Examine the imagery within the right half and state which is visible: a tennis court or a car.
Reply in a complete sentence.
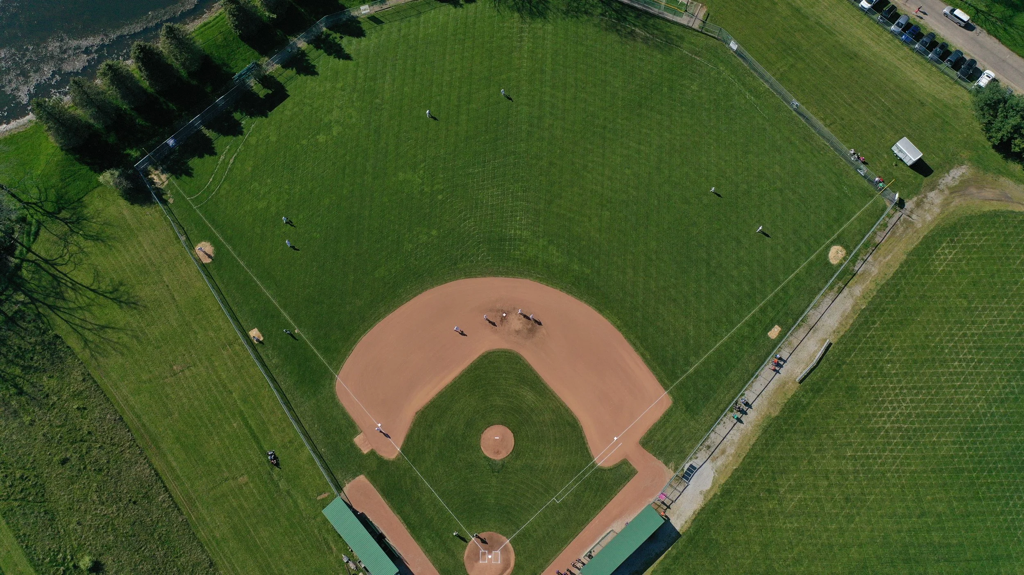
Visible within the right half is a car.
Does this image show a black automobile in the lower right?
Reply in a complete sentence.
No, I see no black automobile in the lower right.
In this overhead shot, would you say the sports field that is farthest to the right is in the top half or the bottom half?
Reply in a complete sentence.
The bottom half of the photo is where the sports field that is farthest to the right is.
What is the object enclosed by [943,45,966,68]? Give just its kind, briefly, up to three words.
car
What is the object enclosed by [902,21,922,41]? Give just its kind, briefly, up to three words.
car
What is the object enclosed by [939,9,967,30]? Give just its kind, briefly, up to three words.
vehicle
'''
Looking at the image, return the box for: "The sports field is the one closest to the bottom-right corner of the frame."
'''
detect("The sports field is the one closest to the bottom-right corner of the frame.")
[647,211,1024,575]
